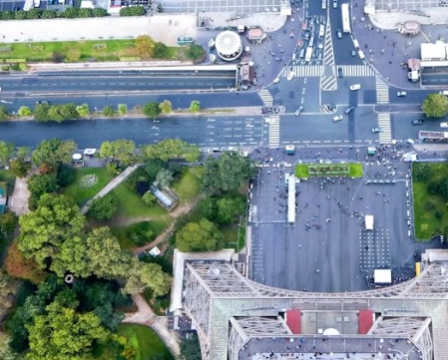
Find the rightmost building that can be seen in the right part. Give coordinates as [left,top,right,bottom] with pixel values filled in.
[421,40,448,60]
